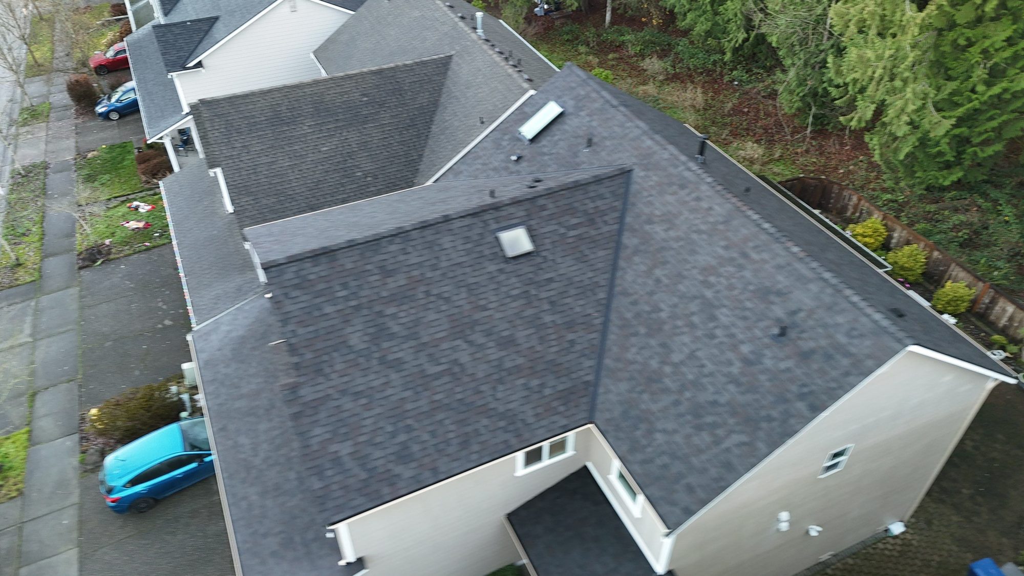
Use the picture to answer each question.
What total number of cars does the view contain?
3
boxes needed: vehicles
[92,413,212,519]
[91,77,138,121]
[77,36,132,76]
